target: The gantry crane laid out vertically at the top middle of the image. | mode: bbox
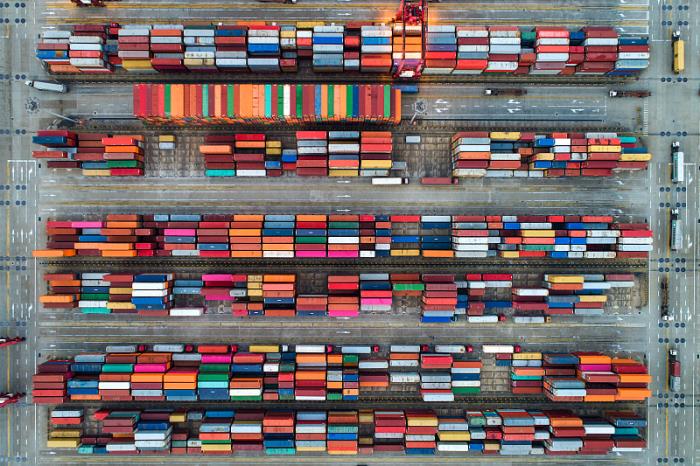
[389,0,428,80]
